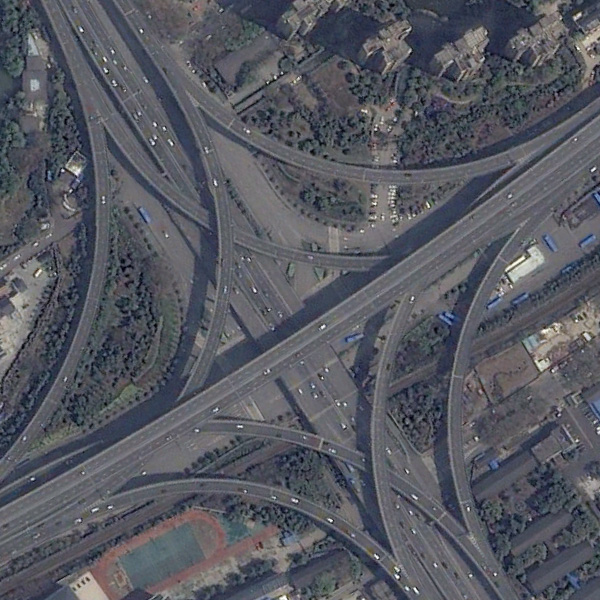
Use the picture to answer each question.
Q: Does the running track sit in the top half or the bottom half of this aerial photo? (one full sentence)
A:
The running track is in the bottom half of the image.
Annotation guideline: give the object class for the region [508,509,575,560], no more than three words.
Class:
house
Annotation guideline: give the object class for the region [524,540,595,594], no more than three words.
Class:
house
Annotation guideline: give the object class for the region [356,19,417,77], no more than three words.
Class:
building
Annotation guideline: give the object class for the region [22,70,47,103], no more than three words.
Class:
shed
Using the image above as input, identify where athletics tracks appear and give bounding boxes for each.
[96,509,274,600]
